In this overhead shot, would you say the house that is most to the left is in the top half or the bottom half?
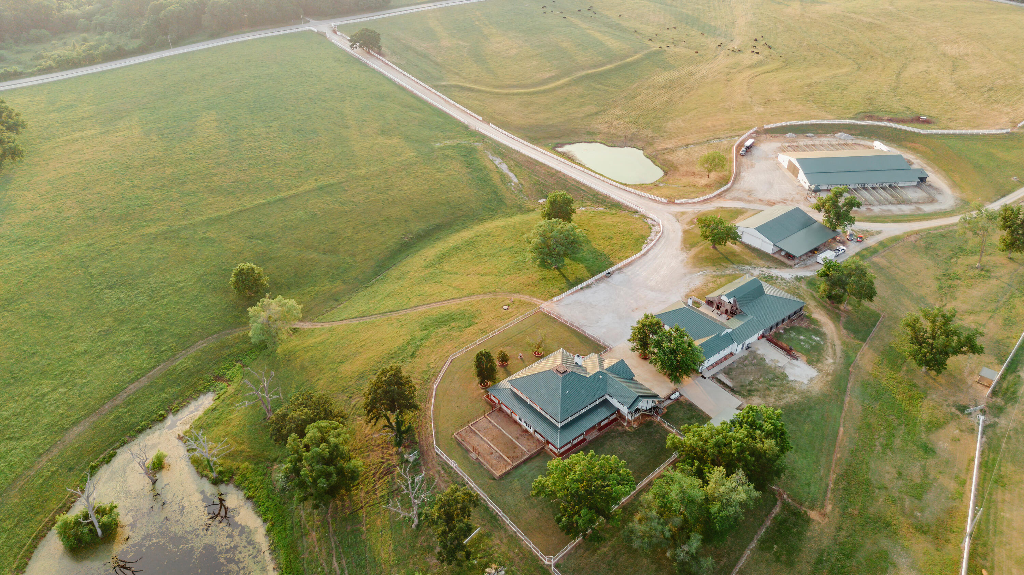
bottom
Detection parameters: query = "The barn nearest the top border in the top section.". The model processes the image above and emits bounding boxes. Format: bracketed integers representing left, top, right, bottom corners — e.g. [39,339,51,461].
[780,150,928,192]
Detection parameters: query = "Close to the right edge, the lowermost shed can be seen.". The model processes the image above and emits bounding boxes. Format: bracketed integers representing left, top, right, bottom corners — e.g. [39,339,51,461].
[977,371,1000,390]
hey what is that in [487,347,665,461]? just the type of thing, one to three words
house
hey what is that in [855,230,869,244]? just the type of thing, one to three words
work vehicle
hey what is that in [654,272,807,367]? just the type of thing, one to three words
house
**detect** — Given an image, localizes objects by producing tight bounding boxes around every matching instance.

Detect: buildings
[487,347,665,461]
[735,205,839,268]
[977,371,1000,390]
[780,150,928,192]
[654,272,807,367]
